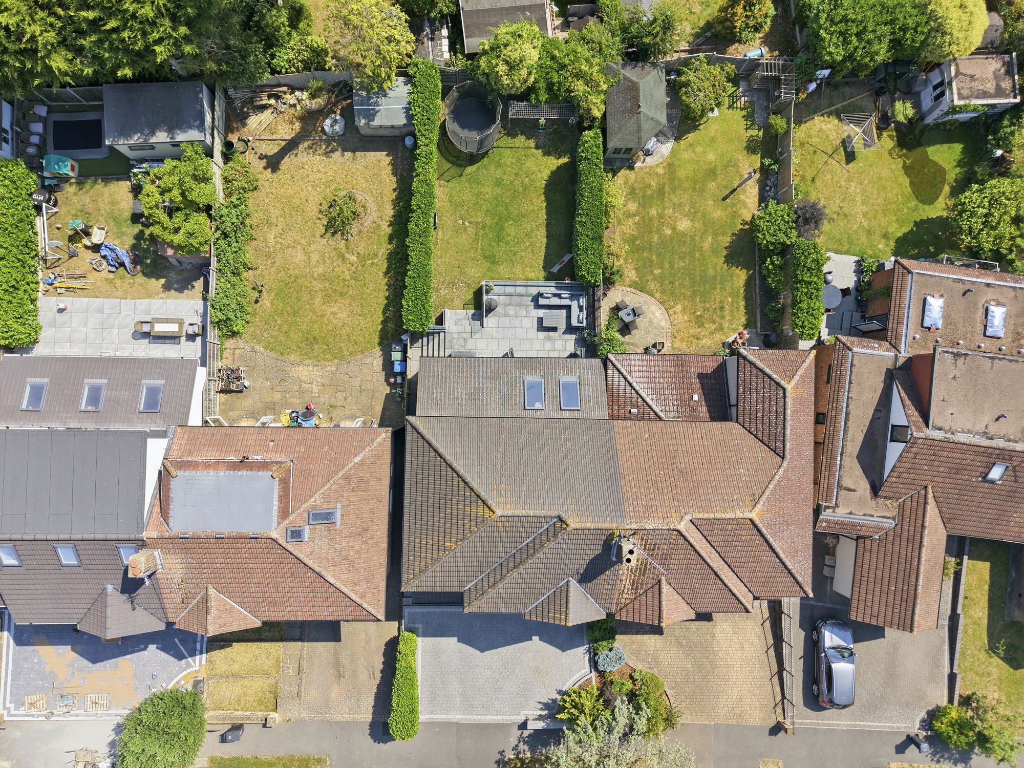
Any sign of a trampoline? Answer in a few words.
Yes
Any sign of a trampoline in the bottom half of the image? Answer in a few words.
No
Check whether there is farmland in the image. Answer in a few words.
No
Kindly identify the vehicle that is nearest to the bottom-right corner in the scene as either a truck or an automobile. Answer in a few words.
automobile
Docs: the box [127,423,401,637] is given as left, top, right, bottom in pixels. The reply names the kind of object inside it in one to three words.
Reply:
house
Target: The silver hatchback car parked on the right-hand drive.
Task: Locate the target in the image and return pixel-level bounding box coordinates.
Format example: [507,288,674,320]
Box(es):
[806,616,859,712]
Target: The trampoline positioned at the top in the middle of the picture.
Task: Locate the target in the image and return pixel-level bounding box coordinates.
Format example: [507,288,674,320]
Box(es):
[439,86,500,162]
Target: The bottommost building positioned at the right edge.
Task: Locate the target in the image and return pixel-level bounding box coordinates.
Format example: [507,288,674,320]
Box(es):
[815,256,1024,634]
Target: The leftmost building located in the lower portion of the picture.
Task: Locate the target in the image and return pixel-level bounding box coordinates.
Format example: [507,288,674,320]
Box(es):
[0,353,205,639]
